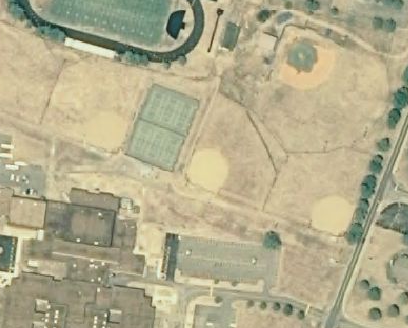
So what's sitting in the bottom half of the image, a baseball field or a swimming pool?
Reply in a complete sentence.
Looking in the bottom half of the image, you will find a baseball field.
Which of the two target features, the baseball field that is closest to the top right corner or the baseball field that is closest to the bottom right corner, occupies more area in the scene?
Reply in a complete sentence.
The baseball field that is closest to the top right corner is larger than the baseball field that is closest to the bottom right corner.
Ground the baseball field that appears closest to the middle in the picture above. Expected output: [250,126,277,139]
[187,146,232,195]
